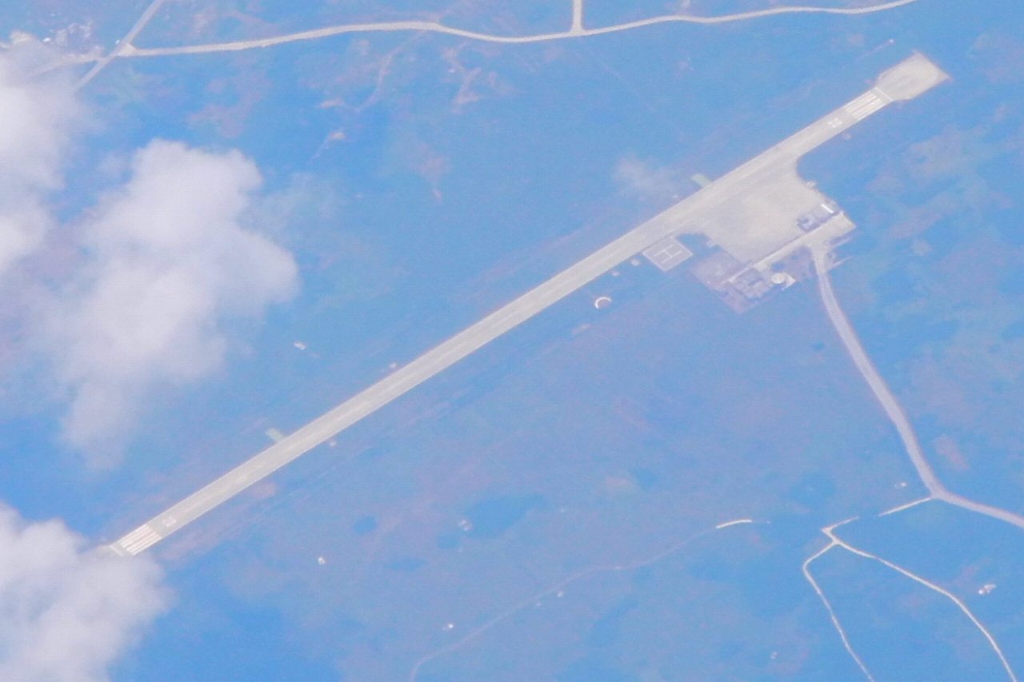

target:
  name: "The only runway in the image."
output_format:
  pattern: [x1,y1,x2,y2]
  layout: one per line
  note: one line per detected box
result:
[101,88,893,563]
